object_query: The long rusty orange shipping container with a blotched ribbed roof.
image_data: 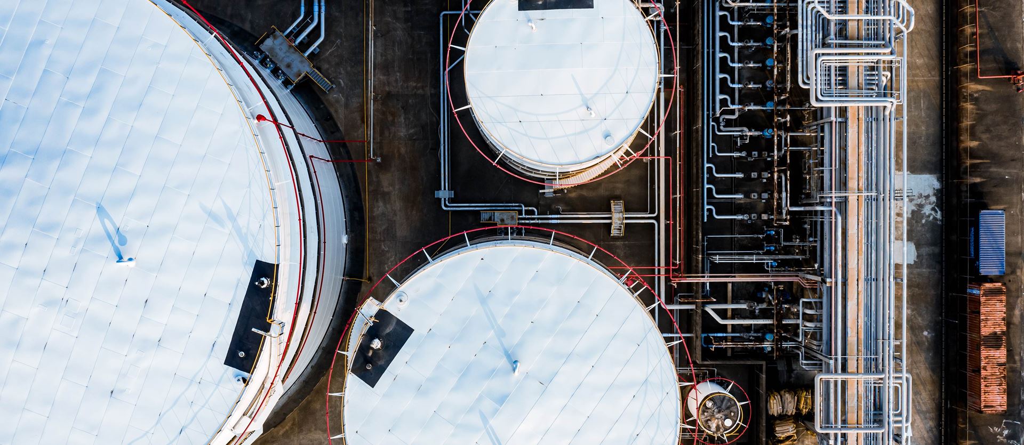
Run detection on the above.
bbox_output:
[968,281,1007,413]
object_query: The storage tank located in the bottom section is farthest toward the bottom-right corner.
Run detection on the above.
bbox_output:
[682,376,752,445]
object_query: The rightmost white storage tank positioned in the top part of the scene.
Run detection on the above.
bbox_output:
[447,0,677,199]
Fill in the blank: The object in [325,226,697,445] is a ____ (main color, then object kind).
white storage tank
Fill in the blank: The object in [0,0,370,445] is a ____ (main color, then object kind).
white storage tank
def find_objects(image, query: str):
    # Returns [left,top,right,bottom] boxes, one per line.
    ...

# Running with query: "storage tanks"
[325,226,697,445]
[682,376,752,445]
[0,0,370,445]
[447,0,677,199]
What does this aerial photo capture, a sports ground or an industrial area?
industrial area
